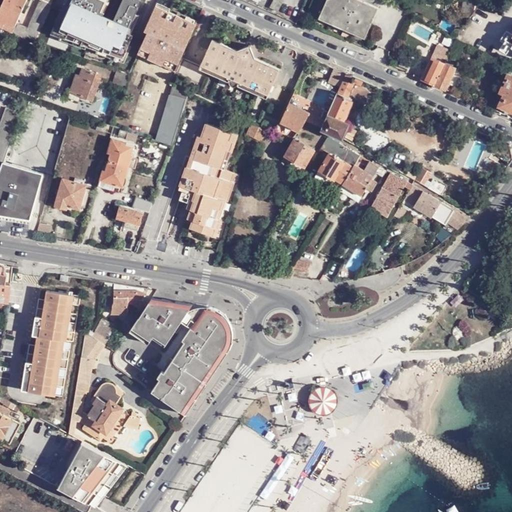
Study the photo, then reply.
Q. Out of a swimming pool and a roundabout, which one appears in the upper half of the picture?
swimming pool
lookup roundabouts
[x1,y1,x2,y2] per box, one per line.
[262,308,298,344]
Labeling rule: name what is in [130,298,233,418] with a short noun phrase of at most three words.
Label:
building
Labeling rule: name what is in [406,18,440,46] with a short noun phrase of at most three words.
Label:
swimming pool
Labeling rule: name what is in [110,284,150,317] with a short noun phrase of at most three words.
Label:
house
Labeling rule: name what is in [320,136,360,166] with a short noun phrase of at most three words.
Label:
house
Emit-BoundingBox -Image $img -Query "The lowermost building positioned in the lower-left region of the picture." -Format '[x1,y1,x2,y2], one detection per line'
[58,440,127,508]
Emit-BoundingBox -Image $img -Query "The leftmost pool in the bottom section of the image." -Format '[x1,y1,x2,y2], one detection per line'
[132,428,154,455]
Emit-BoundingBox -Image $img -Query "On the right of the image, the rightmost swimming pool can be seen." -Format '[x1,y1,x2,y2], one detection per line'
[460,138,488,172]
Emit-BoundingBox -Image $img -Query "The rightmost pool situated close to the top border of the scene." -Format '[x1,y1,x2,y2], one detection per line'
[437,18,456,34]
